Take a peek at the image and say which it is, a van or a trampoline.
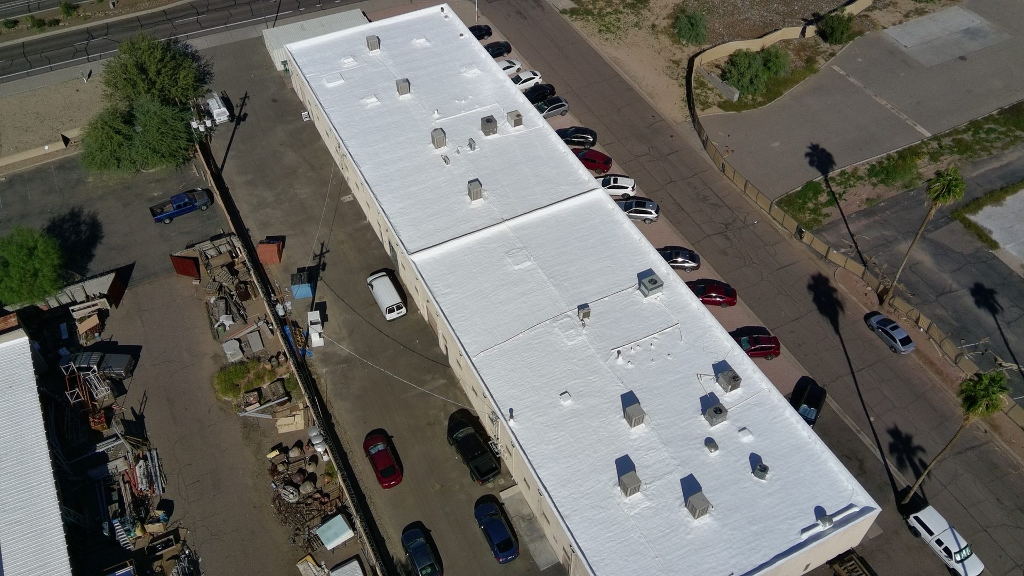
van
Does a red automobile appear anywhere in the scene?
Yes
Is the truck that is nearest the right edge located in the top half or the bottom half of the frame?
bottom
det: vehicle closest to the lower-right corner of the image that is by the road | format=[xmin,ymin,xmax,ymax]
[905,507,994,576]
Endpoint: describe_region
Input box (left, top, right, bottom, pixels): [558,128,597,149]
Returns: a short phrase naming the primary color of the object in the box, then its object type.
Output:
black car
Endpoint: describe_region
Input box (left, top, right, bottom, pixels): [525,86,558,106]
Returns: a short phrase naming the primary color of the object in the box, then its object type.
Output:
black car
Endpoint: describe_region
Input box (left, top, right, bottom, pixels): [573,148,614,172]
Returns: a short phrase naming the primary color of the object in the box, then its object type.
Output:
red car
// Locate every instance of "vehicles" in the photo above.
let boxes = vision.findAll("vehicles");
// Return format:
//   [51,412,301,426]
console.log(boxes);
[558,128,597,149]
[499,61,524,76]
[405,527,445,576]
[731,331,782,360]
[690,282,738,309]
[619,200,660,225]
[365,433,404,491]
[599,177,636,201]
[573,148,614,172]
[525,86,558,106]
[513,72,545,92]
[795,382,827,431]
[660,248,701,274]
[365,270,409,324]
[905,507,994,576]
[64,349,134,383]
[450,416,503,489]
[865,311,919,356]
[539,101,572,122]
[476,500,518,566]
[206,88,231,125]
[150,190,214,224]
